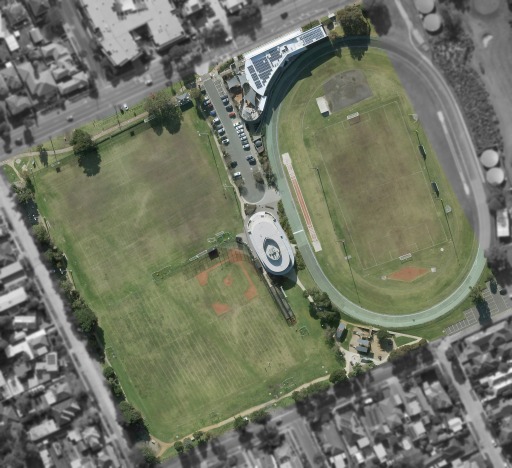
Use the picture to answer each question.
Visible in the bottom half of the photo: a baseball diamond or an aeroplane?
baseball diamond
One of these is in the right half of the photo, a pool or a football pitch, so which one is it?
football pitch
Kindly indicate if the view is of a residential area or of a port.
residential area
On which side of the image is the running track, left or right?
right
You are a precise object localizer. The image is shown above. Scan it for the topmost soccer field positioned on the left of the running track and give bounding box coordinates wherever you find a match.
[33,114,241,308]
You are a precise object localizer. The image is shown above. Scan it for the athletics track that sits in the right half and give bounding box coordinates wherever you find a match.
[262,34,494,329]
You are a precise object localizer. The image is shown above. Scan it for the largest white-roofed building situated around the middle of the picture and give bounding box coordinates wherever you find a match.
[244,212,294,274]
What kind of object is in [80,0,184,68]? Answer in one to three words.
building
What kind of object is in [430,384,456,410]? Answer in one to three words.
house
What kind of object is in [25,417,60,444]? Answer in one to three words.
house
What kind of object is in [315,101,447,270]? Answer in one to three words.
soccer field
